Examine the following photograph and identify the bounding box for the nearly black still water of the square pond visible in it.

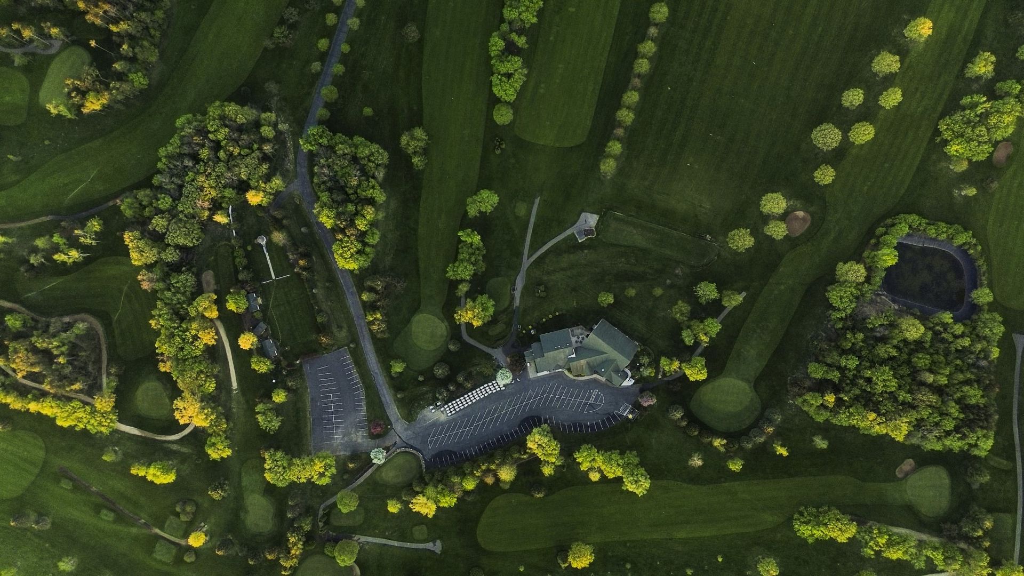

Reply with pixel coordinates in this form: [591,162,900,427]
[883,241,965,314]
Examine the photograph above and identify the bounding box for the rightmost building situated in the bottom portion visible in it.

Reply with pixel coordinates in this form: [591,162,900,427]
[525,318,639,387]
